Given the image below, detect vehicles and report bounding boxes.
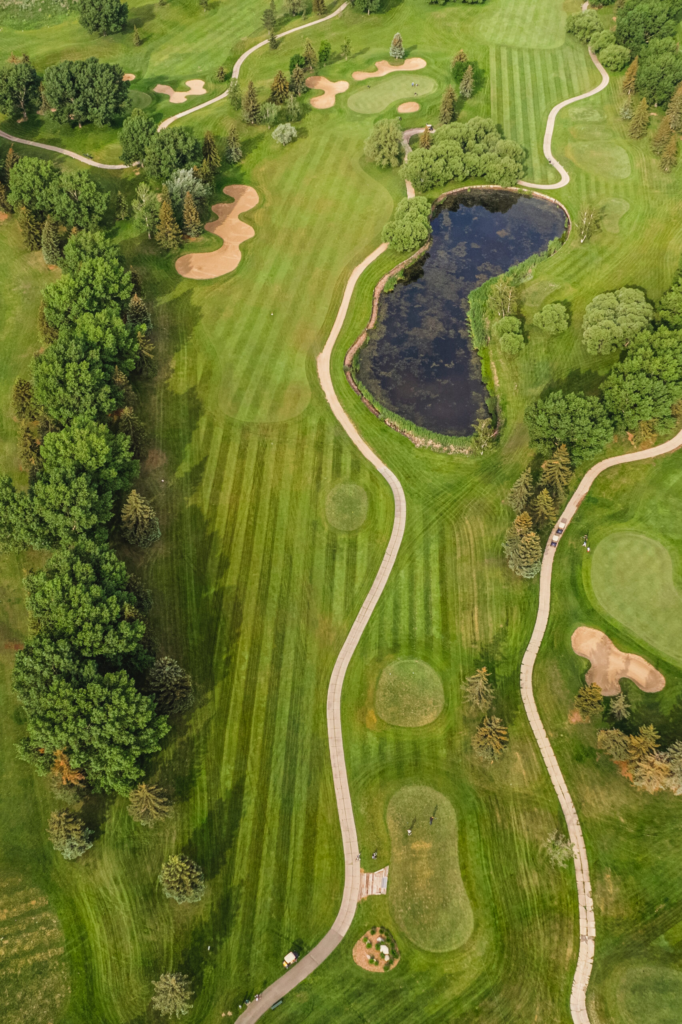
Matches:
[425,122,433,131]
[549,532,559,547]
[555,520,565,534]
[280,948,299,968]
